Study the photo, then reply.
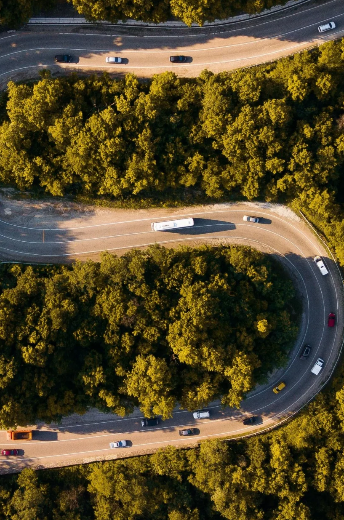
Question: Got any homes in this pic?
No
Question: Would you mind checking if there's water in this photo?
No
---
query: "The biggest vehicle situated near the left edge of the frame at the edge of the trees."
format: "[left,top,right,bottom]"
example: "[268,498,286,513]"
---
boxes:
[5,431,33,444]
